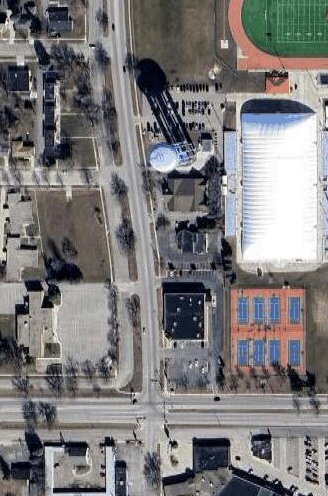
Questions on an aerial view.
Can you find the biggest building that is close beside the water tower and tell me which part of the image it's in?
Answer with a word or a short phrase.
center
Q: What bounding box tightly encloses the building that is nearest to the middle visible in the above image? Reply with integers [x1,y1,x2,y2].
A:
[177,231,209,253]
